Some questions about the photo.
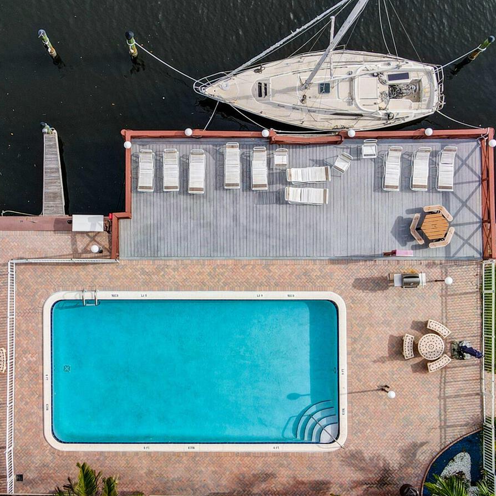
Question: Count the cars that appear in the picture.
0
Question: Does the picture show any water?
Yes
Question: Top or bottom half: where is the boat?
top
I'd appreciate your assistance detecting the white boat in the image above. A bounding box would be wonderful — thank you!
[194,0,445,131]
